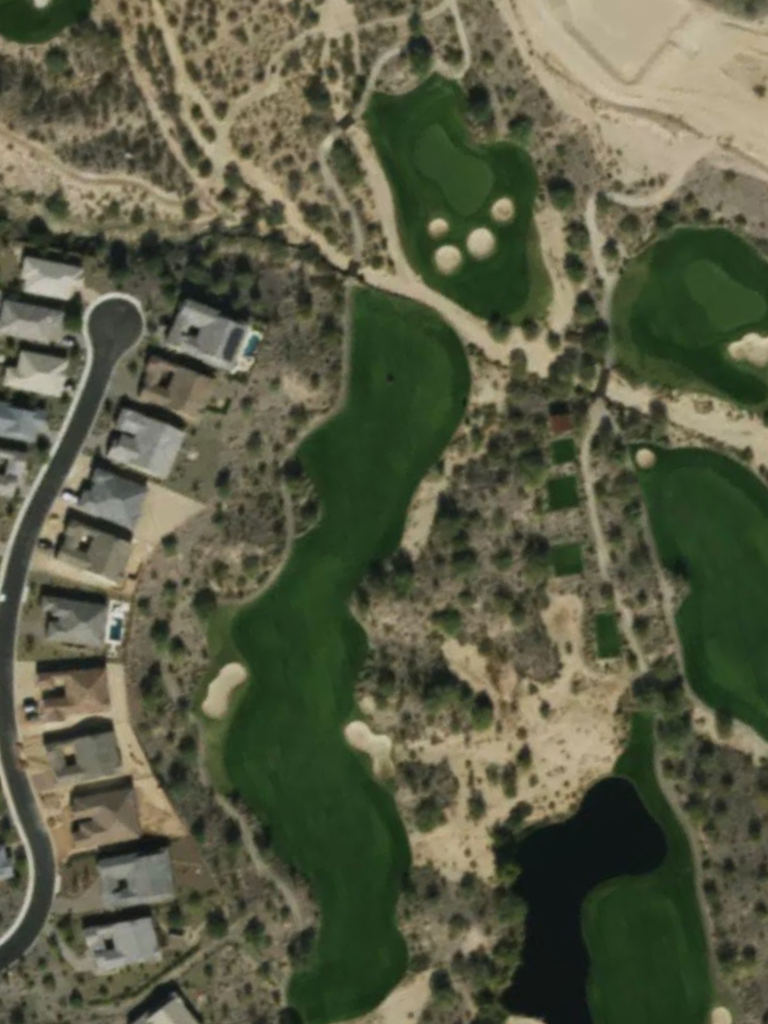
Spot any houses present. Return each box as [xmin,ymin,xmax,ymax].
[132,994,195,1024]
[20,257,85,299]
[69,790,139,846]
[40,597,108,643]
[0,300,65,344]
[165,298,249,371]
[4,352,69,396]
[56,519,132,580]
[0,400,51,444]
[37,671,111,717]
[78,467,149,530]
[136,355,206,415]
[47,731,122,783]
[0,454,29,499]
[97,849,174,907]
[105,409,187,481]
[85,918,160,974]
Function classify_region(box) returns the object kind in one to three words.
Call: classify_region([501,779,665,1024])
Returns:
pond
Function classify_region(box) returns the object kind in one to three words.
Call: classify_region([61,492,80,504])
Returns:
vehicle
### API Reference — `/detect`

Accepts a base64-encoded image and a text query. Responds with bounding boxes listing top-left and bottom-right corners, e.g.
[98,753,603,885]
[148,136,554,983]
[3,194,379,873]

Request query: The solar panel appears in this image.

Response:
[221,326,245,363]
